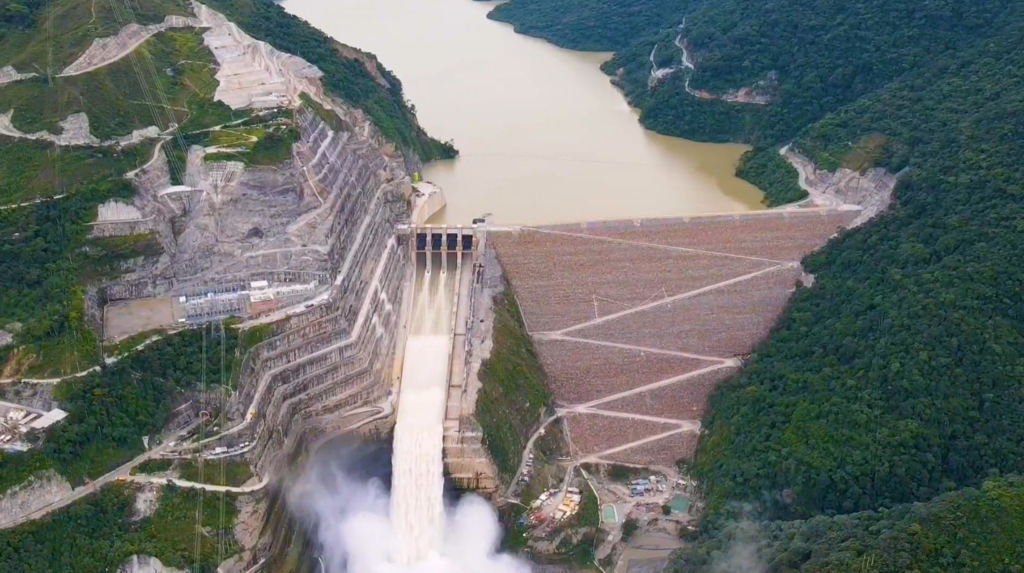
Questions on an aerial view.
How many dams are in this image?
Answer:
1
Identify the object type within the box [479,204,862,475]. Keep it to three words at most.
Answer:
dam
